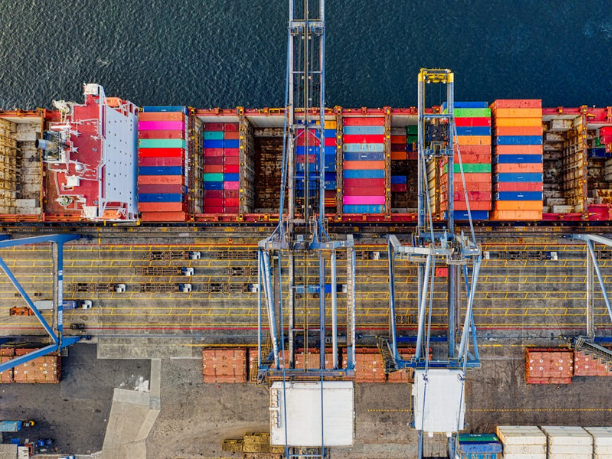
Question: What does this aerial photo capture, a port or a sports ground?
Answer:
port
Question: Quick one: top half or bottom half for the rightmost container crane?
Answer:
bottom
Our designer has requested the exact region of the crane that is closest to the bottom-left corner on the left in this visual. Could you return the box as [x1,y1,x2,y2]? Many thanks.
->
[0,231,100,377]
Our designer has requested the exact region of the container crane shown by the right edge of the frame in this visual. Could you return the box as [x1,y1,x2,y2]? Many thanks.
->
[551,232,612,369]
